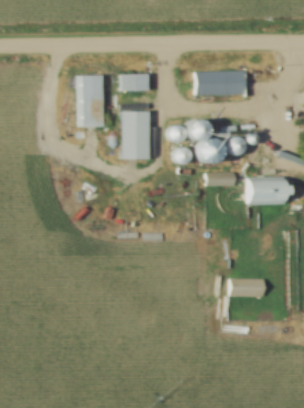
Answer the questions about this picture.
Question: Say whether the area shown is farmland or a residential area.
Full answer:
The area seen from above is farmland.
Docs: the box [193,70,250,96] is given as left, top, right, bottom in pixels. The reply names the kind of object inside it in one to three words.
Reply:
shed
